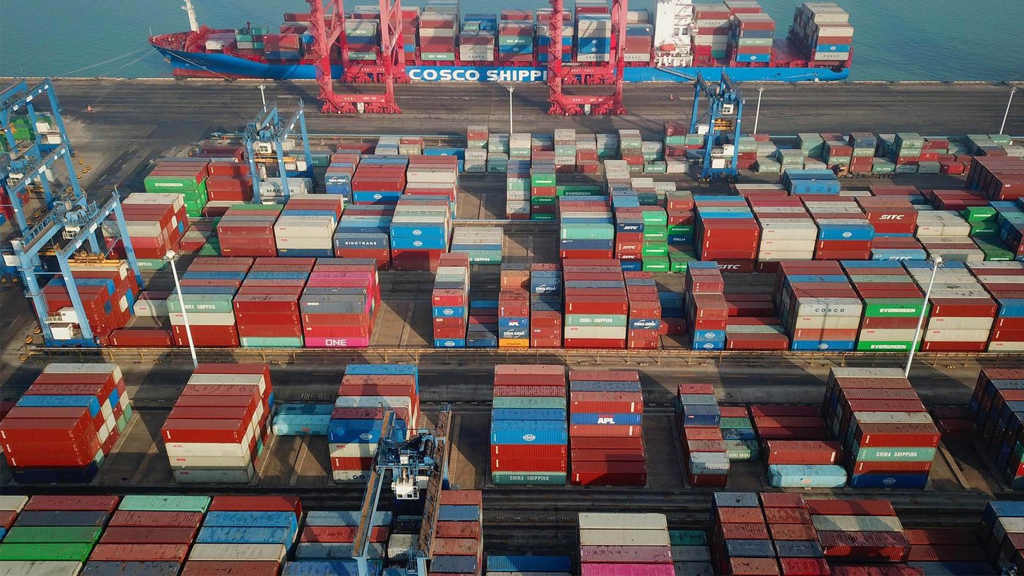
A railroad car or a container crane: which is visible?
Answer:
container crane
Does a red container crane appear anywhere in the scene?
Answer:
Yes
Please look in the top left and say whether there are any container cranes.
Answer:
Yes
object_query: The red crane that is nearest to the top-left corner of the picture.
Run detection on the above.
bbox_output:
[302,0,415,114]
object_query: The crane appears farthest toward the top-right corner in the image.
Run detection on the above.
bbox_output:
[692,65,750,178]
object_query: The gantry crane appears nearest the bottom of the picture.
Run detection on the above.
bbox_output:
[349,396,459,576]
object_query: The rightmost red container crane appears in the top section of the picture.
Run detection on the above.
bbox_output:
[541,0,630,114]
